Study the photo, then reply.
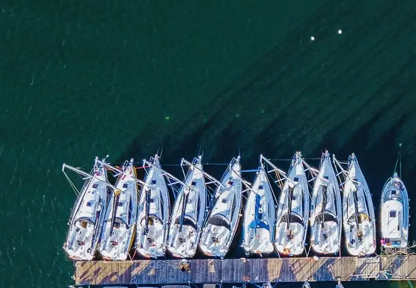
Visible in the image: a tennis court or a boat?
boat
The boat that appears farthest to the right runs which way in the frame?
vertically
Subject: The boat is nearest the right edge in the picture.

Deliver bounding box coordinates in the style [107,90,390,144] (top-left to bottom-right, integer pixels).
[380,158,413,254]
